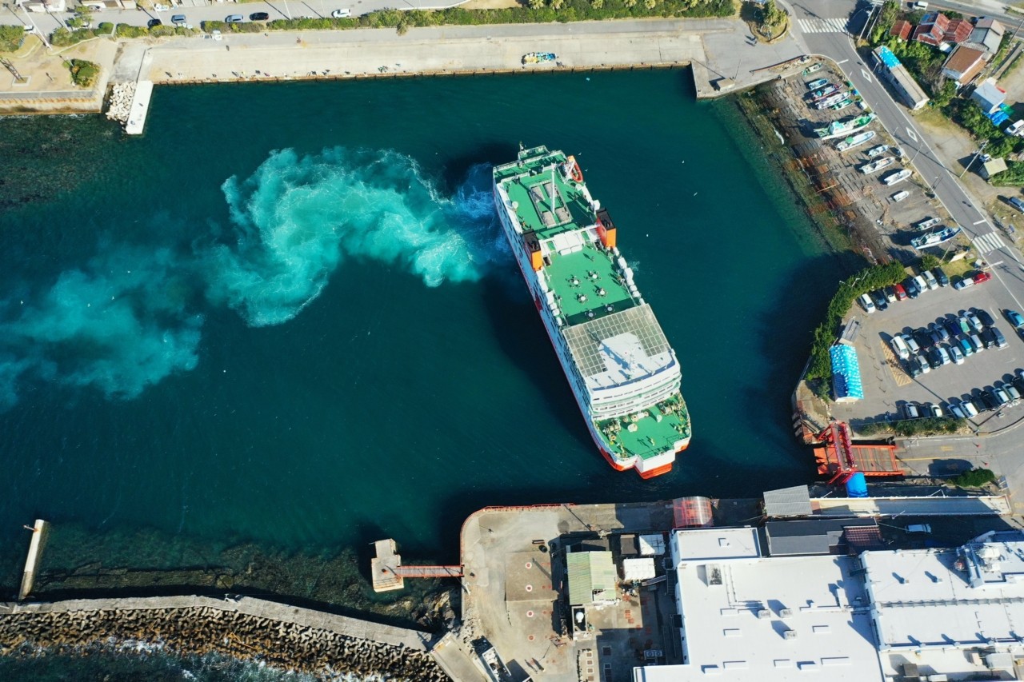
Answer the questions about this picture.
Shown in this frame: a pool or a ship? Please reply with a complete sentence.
The image shows a ship.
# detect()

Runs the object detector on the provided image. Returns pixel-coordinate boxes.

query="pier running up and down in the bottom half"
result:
[19,520,52,600]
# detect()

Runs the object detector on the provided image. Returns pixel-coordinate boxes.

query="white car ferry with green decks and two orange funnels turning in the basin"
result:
[494,139,692,481]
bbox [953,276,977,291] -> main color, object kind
white car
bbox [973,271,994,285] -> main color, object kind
red car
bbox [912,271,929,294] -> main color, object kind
white vehicle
